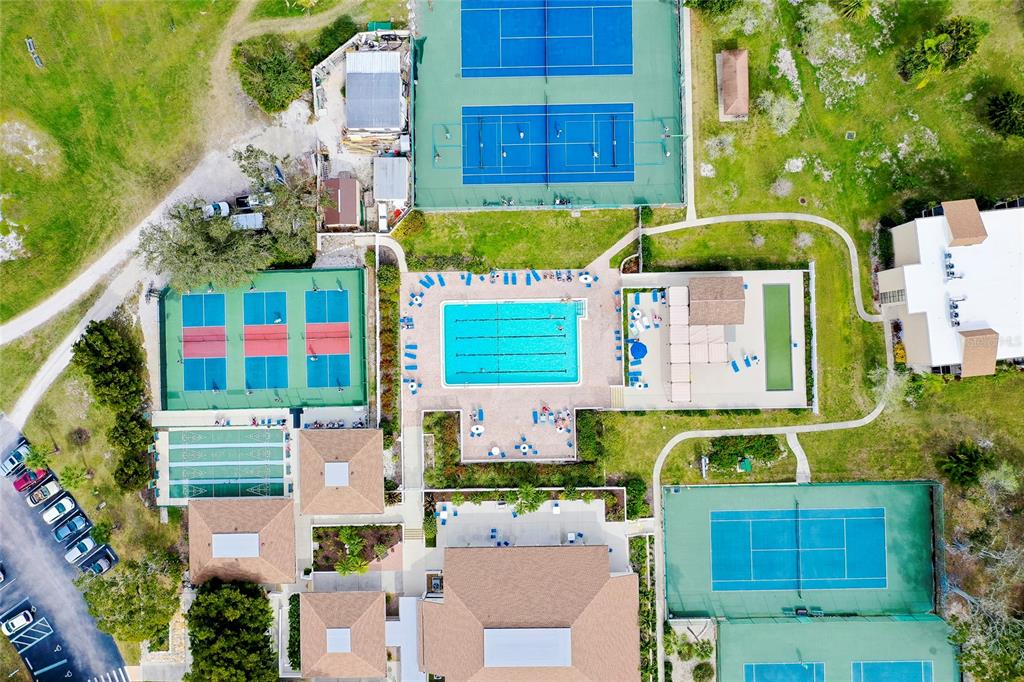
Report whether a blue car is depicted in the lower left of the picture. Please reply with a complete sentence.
Yes, you'll find a blue car in the lower left of the picture.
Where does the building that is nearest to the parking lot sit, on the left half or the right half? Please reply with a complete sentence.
It is on the left.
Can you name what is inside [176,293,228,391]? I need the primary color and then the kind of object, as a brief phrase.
blue sports court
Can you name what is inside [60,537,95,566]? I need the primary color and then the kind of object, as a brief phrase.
white car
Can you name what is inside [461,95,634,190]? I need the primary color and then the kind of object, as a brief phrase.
blue tennis court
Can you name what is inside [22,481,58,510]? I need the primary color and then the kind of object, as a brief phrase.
white car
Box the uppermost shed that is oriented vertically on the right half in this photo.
[716,49,748,122]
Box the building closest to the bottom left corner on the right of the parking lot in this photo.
[188,499,296,585]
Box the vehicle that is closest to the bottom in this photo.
[0,609,32,638]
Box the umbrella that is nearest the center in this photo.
[634,342,650,359]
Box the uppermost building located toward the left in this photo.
[346,52,403,136]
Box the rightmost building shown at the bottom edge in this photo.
[420,540,639,682]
